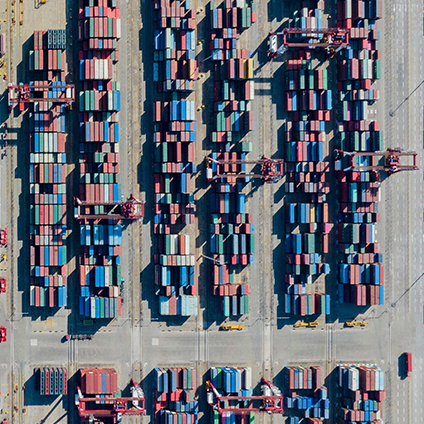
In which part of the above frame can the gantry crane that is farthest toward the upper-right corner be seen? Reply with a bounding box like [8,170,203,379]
[270,29,351,57]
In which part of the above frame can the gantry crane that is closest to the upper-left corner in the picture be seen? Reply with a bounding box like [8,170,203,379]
[4,84,76,110]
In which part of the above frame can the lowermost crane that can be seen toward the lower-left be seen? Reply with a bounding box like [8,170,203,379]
[72,383,146,415]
